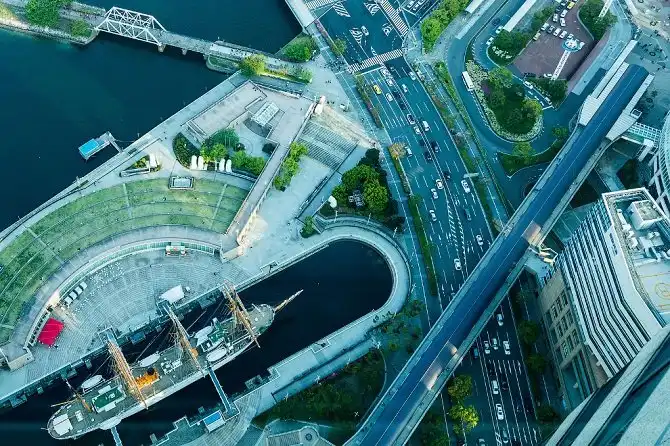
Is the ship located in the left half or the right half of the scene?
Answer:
left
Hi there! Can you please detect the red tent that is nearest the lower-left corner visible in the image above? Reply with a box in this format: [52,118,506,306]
[38,318,66,347]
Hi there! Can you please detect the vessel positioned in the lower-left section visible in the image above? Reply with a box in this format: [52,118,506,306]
[27,267,302,441]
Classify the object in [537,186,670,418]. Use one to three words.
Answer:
building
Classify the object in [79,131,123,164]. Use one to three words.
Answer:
pier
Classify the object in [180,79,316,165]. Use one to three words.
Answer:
building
